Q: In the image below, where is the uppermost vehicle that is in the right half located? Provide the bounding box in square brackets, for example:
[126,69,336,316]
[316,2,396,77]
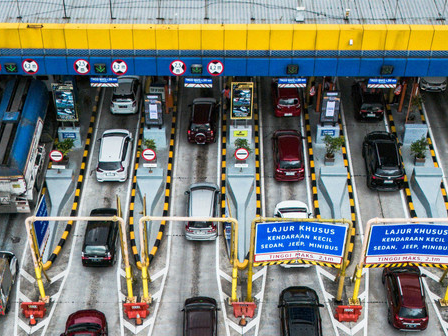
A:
[416,76,446,93]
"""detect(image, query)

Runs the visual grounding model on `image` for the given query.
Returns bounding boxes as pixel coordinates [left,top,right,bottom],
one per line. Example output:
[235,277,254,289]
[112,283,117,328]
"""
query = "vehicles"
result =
[0,74,61,214]
[0,245,24,316]
[279,287,325,336]
[186,97,218,142]
[82,204,120,267]
[179,293,222,336]
[364,134,403,190]
[382,270,427,332]
[271,132,306,182]
[111,76,142,114]
[62,309,107,336]
[271,80,301,117]
[352,78,384,121]
[97,130,132,182]
[416,76,446,93]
